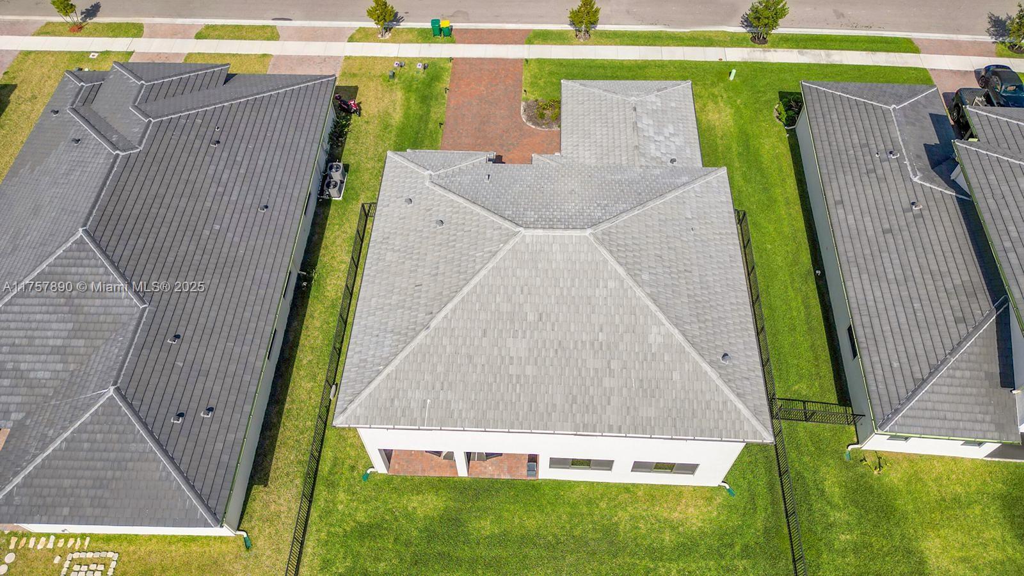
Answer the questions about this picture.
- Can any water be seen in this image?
No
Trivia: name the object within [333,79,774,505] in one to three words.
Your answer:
house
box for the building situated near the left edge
[0,59,335,558]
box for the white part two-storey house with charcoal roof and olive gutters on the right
[789,79,1024,466]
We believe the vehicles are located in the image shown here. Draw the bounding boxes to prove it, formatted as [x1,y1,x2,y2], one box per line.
[982,65,1024,109]
[955,89,998,134]
[333,83,361,111]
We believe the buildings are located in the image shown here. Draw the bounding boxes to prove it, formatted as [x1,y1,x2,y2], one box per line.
[333,79,774,505]
[789,79,1024,466]
[0,59,335,558]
